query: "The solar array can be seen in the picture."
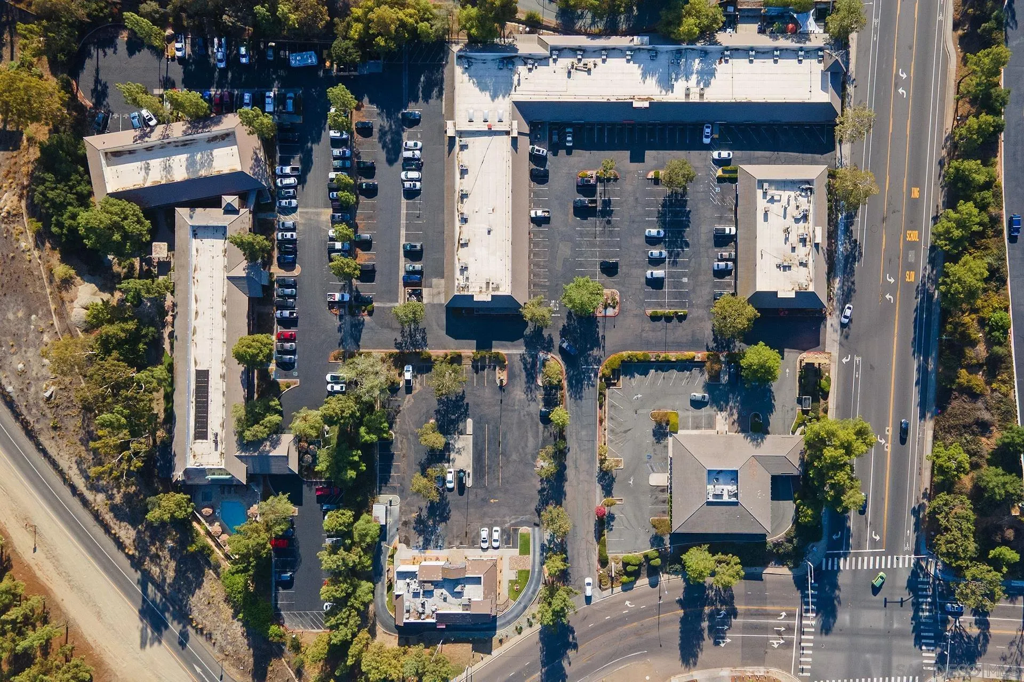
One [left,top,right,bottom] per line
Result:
[193,370,209,443]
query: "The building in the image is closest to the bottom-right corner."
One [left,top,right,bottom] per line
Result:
[671,434,802,533]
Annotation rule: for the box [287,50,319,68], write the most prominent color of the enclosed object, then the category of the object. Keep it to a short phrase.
blue camper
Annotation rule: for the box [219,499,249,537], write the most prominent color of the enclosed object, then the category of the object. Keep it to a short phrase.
blue swimming pool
